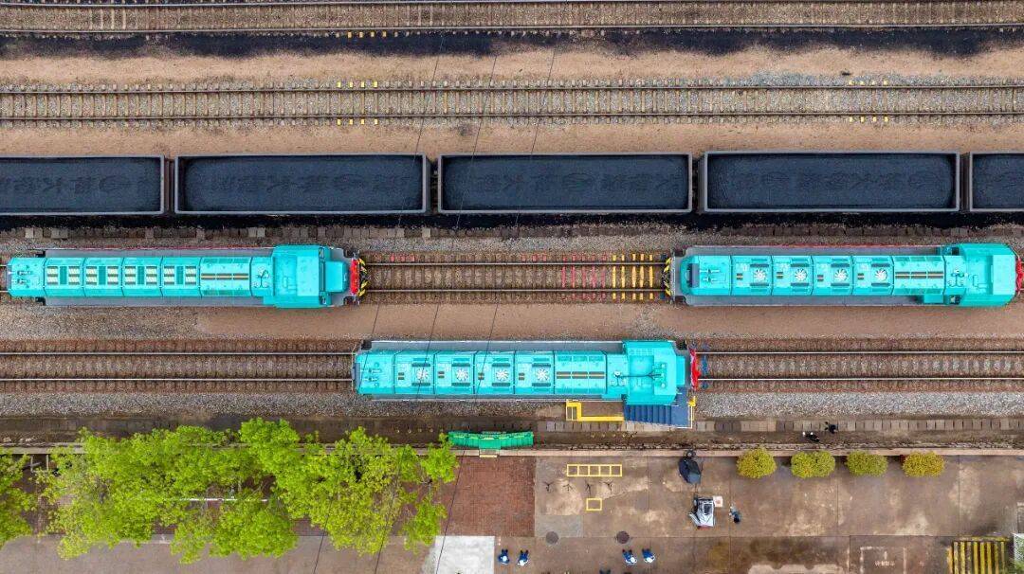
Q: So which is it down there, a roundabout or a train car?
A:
train car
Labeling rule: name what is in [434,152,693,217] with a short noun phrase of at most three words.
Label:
rail car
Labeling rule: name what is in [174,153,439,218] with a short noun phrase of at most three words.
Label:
rail car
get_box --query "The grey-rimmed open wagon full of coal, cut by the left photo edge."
[0,154,184,219]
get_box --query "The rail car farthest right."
[944,150,1024,215]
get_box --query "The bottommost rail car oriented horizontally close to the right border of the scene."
[659,245,1018,307]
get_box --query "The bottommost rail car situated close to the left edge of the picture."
[8,246,370,308]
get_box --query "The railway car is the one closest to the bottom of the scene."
[347,339,694,403]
